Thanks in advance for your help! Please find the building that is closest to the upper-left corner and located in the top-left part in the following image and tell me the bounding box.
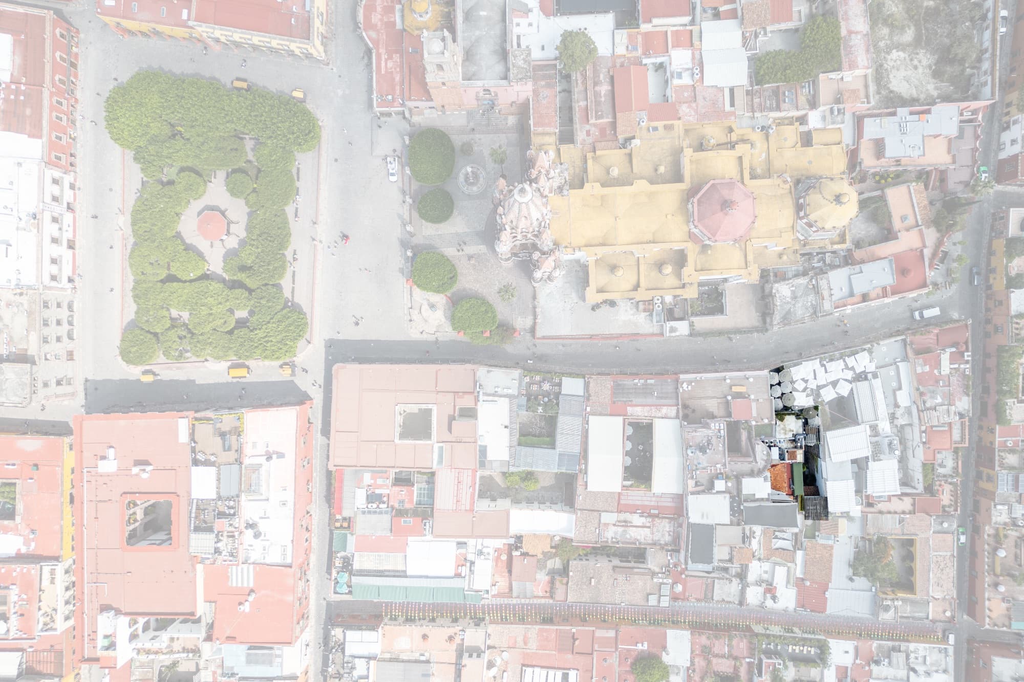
[0,2,81,104]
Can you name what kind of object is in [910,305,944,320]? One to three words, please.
vehicle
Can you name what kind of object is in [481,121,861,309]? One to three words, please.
church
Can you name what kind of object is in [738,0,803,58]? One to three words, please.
house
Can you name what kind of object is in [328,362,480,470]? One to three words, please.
building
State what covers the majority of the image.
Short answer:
buildings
